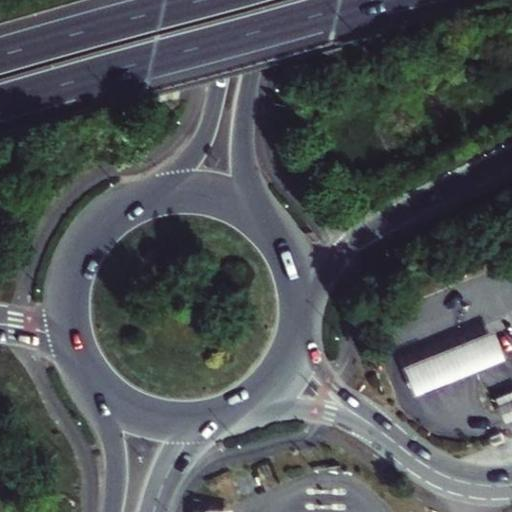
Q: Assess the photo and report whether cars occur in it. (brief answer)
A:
Yes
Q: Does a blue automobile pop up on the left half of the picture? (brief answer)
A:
No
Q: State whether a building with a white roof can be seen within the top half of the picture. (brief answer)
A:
No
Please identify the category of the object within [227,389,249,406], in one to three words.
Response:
car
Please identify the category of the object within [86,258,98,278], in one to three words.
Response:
vehicle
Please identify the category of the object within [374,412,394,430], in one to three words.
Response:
car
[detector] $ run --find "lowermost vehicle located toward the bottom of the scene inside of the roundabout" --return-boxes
[200,421,219,440]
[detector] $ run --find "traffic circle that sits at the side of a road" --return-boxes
[42,163,334,445]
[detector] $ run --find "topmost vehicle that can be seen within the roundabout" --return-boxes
[128,204,147,222]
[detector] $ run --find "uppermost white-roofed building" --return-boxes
[404,333,507,398]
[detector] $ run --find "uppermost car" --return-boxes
[366,2,388,14]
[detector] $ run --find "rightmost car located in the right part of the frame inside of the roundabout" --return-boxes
[309,344,322,364]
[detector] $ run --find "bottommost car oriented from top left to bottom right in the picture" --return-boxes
[410,441,430,460]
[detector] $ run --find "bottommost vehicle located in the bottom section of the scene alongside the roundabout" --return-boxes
[176,452,192,473]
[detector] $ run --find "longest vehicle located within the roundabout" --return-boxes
[279,246,298,280]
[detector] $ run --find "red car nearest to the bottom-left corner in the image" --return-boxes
[71,331,84,351]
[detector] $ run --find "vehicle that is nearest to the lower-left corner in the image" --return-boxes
[96,396,110,416]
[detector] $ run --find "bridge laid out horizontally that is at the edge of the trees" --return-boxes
[144,0,354,102]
